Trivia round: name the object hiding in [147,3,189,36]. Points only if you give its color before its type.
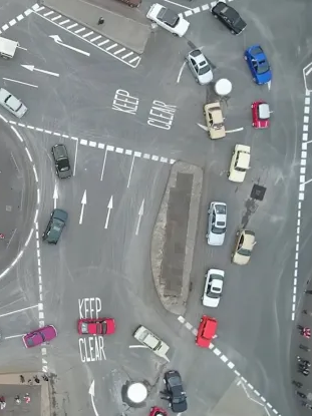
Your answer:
white car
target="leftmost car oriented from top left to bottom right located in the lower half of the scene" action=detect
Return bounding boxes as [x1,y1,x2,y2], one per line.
[132,325,171,357]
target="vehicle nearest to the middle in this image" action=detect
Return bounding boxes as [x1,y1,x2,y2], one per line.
[206,201,227,245]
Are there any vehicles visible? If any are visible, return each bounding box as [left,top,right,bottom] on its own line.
[147,3,189,36]
[0,35,19,59]
[187,49,212,85]
[194,315,218,348]
[22,324,57,349]
[227,144,250,182]
[159,369,187,413]
[117,0,141,7]
[77,317,116,336]
[132,325,171,357]
[52,143,73,179]
[245,44,271,84]
[206,201,227,245]
[211,1,244,34]
[0,88,28,119]
[201,268,224,308]
[250,100,271,129]
[44,208,68,245]
[231,229,255,265]
[203,102,226,139]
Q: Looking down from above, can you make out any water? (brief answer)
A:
No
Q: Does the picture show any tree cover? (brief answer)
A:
No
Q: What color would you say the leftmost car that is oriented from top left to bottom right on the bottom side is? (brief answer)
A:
white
